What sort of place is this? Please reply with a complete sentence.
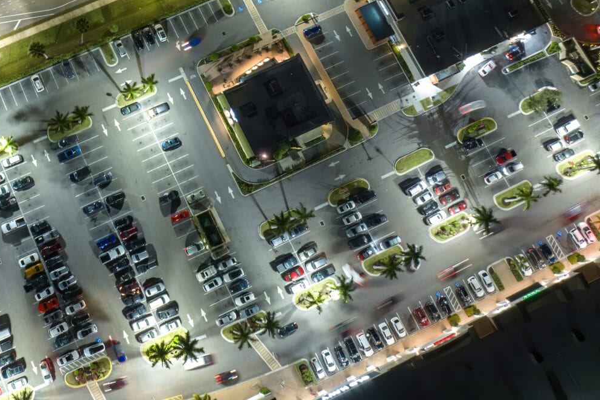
What you see here is a parking lot.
